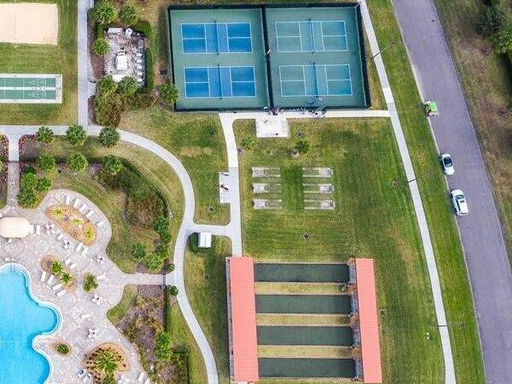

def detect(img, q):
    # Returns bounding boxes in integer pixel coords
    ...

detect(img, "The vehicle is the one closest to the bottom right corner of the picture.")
[451,190,470,216]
